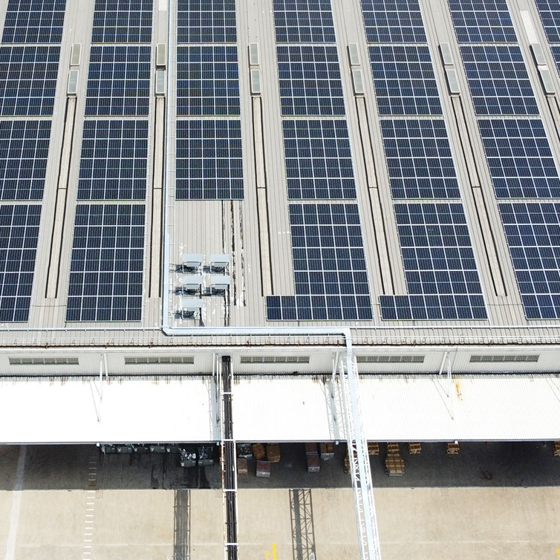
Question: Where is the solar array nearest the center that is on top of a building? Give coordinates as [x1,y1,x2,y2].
[264,204,373,319]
